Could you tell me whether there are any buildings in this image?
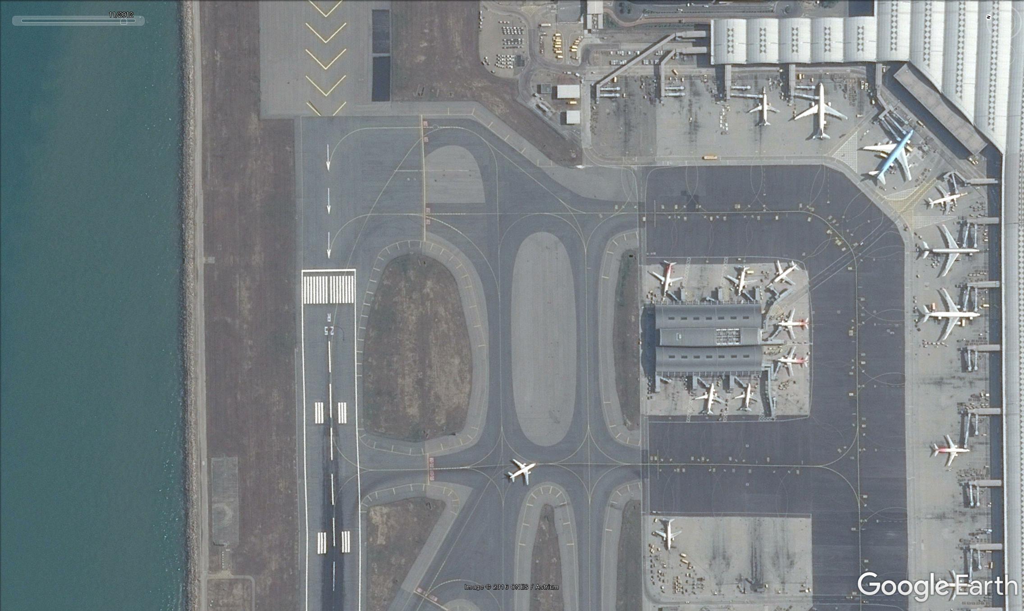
Yes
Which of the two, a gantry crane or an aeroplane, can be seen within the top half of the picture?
aeroplane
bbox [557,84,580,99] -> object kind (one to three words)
shed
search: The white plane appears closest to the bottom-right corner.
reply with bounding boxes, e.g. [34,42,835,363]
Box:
[939,570,972,600]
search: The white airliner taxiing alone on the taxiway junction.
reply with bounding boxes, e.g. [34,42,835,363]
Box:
[507,460,536,486]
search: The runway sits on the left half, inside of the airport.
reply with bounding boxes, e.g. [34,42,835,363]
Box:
[294,116,428,611]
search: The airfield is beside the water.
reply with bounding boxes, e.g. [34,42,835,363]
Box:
[260,0,1006,611]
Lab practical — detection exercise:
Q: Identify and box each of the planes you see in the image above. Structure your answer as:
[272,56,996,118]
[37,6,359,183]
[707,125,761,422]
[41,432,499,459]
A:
[727,265,758,296]
[923,225,980,276]
[868,130,915,185]
[777,308,809,339]
[507,460,536,486]
[750,87,780,125]
[767,261,799,288]
[695,384,726,414]
[736,384,760,411]
[939,570,972,600]
[653,261,683,300]
[924,289,980,340]
[777,346,809,376]
[657,519,683,551]
[935,435,970,465]
[929,185,967,214]
[795,83,848,139]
